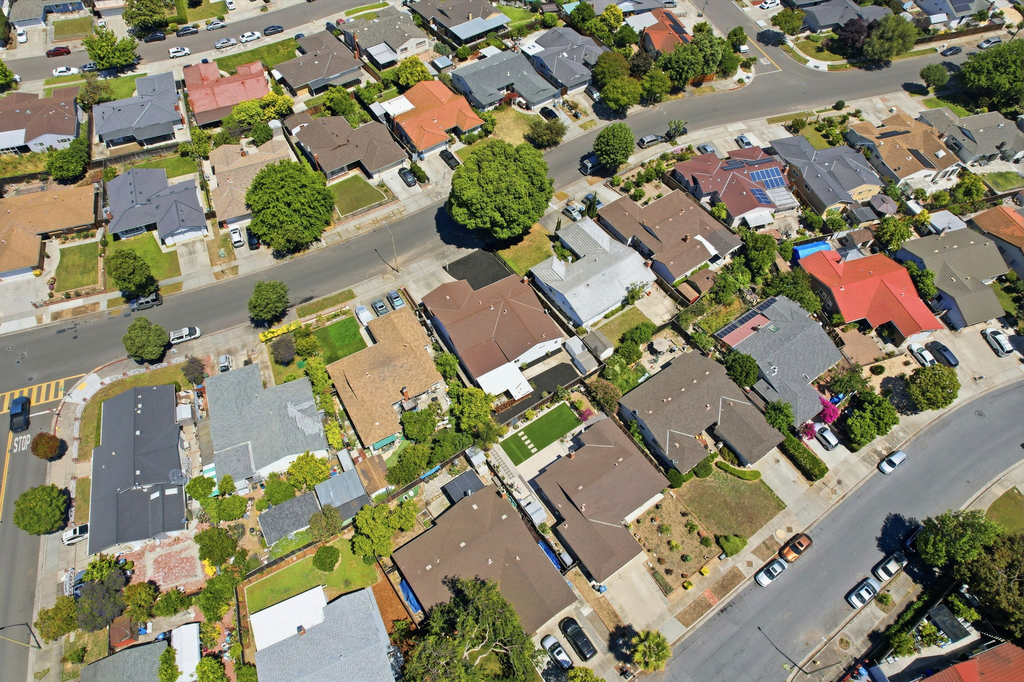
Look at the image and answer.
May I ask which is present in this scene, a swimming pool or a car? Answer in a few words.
car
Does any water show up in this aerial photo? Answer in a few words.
No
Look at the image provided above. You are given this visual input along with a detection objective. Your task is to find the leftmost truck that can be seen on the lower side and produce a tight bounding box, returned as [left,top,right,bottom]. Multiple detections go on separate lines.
[7,394,30,432]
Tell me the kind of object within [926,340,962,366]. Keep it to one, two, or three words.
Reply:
car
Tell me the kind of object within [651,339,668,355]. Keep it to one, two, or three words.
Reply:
umbrella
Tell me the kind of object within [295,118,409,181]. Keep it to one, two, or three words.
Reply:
house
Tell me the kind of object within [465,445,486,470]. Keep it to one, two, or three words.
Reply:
shed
